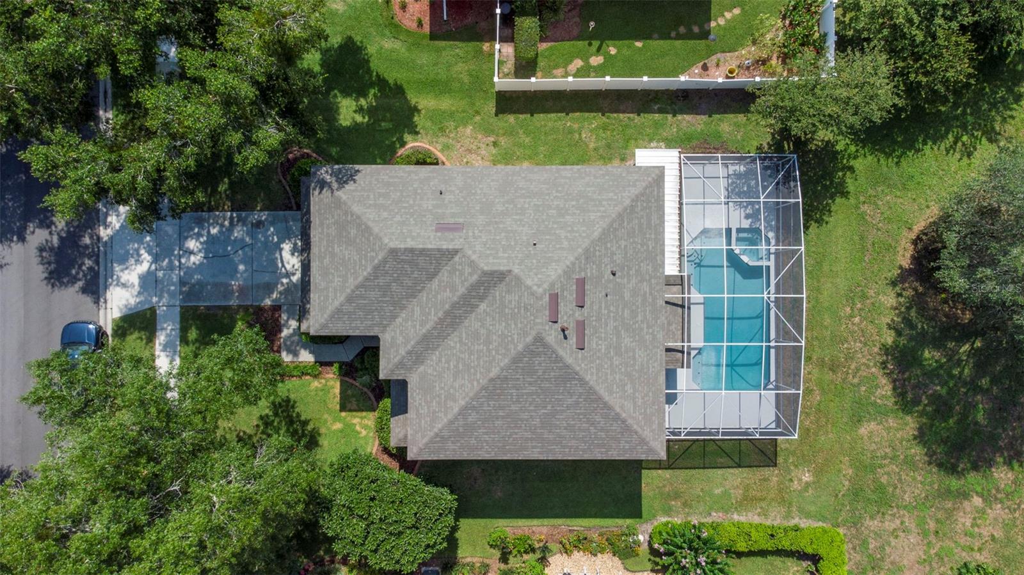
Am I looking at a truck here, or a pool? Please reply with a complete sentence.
The one in the frame is a pool.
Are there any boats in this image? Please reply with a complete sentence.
No, there is no boat in the image.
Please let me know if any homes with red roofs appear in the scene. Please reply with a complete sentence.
No, I find no home with a red roof anywhere in the image.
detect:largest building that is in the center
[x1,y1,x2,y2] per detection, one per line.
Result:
[300,164,691,462]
